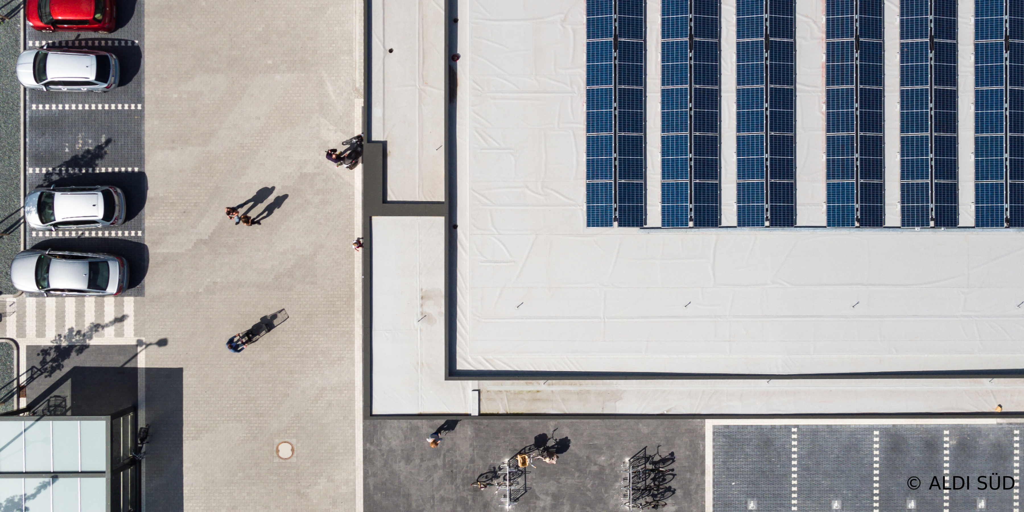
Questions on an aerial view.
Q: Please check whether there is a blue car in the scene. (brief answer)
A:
No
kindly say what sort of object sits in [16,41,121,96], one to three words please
car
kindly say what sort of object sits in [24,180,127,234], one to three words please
car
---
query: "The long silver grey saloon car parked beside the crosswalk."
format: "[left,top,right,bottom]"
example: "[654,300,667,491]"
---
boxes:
[9,245,131,302]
